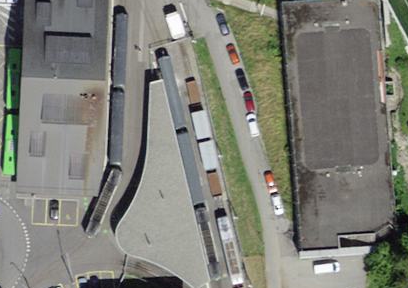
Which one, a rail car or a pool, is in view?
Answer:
rail car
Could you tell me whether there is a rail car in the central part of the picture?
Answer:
Yes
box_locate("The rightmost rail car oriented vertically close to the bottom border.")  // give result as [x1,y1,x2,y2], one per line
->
[216,217,244,286]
